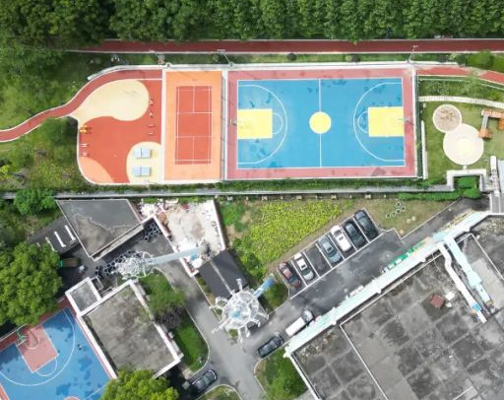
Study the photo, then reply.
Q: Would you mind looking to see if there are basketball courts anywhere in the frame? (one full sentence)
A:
Yes, you can see a basketball court in this photo.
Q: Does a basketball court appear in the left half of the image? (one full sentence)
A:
Yes, a basketball court can be seen in the left half of the image.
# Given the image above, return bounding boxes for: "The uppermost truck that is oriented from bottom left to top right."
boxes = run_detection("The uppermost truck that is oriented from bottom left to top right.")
[282,309,314,336]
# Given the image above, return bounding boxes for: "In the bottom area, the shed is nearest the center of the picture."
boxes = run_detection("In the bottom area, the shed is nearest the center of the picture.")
[199,250,252,299]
